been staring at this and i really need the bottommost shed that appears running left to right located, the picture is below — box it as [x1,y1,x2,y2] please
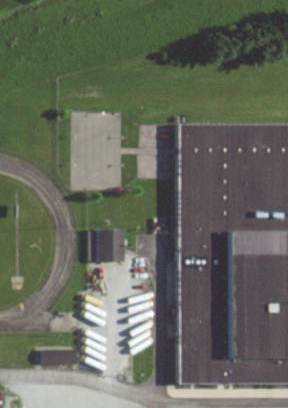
[41,350,78,363]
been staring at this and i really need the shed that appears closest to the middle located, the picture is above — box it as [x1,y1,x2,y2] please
[88,230,124,262]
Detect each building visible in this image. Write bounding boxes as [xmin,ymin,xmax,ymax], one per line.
[41,350,78,363]
[175,124,288,384]
[88,230,124,262]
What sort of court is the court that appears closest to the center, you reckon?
basketball court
